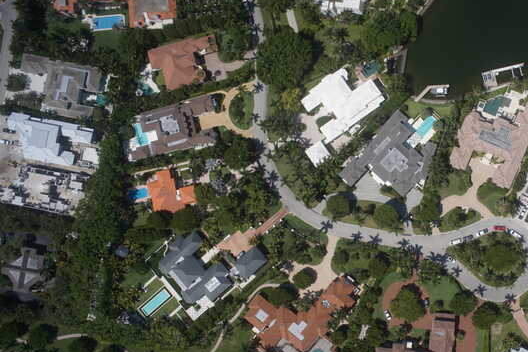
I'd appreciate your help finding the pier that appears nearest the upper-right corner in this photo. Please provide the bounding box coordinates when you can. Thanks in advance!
[481,62,526,90]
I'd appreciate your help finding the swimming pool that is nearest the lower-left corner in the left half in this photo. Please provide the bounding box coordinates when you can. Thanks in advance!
[141,289,172,316]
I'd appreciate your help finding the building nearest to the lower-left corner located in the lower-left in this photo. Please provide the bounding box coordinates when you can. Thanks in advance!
[1,238,57,301]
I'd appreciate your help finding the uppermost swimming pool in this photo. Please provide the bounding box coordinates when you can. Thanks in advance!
[92,13,125,31]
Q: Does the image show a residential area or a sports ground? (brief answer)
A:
residential area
